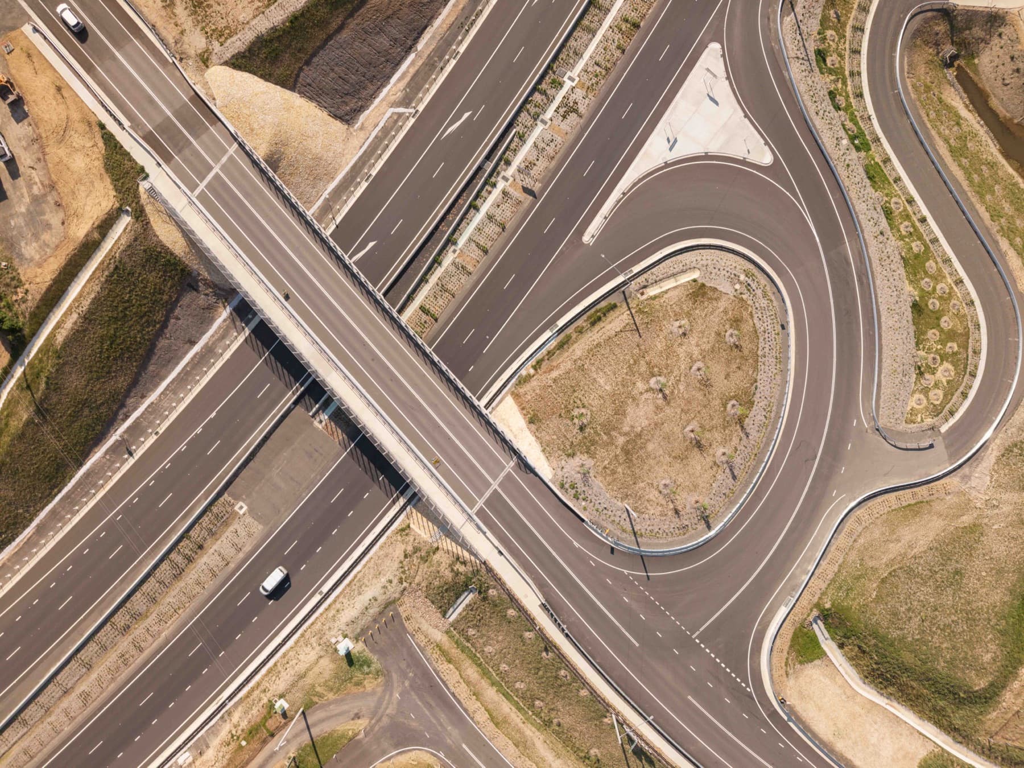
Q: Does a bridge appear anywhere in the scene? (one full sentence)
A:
Yes, there's a bridge down there.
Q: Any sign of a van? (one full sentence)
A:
Yes, this view includes a van.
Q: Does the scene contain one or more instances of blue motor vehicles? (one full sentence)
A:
No, no blue motor vehicle can be seen from above.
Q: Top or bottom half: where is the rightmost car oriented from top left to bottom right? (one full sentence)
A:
It is in the top half that the rightmost car oriented from top left to bottom right appears.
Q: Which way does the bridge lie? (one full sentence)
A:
The bridge runs on a diagonal in the image.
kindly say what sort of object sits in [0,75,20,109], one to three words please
vehicle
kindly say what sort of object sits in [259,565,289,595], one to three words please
van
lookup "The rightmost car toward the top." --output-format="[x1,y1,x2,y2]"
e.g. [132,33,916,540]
[56,3,85,33]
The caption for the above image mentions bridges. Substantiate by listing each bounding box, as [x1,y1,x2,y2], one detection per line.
[120,58,586,604]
